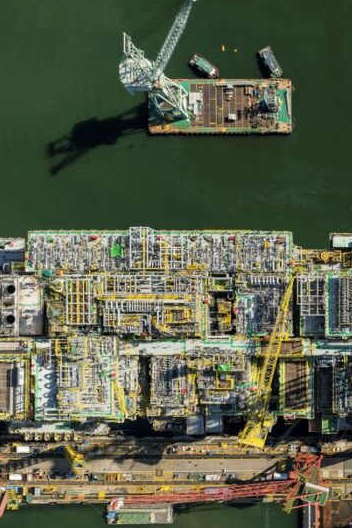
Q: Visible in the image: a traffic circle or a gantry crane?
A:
gantry crane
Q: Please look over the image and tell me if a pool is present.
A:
No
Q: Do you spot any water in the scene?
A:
Yes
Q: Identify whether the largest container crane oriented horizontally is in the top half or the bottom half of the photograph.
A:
bottom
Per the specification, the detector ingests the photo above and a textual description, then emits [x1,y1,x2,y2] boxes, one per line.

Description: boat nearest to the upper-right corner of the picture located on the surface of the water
[257,46,281,79]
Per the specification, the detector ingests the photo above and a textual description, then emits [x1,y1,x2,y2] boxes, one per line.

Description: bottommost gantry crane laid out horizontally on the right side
[110,451,337,512]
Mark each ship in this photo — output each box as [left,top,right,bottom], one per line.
[148,79,293,135]
[0,227,352,440]
[107,497,173,525]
